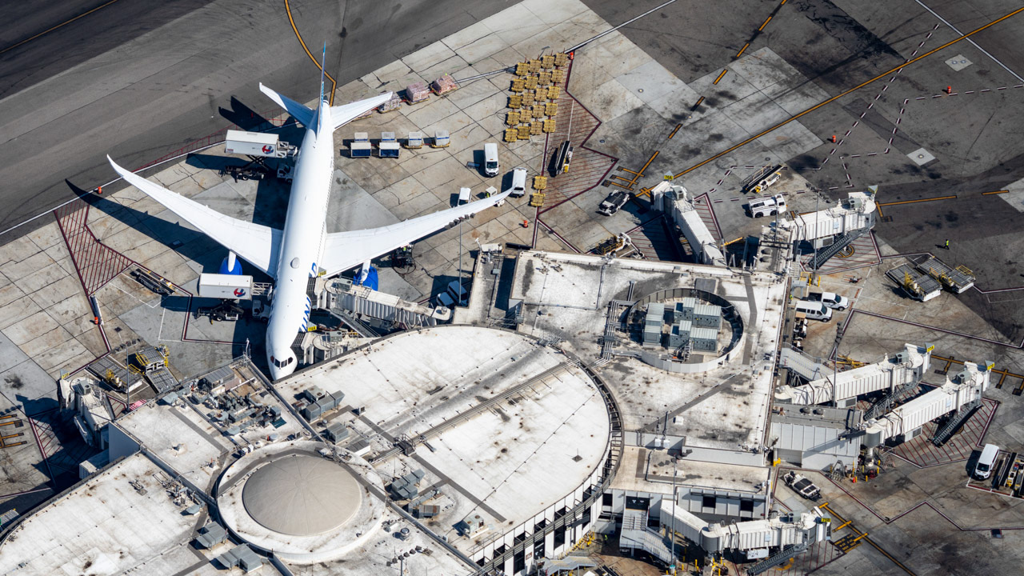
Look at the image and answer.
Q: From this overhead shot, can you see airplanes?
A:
Yes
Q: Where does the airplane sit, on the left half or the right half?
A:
left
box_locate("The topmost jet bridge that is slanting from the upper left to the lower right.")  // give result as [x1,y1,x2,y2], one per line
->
[645,171,741,267]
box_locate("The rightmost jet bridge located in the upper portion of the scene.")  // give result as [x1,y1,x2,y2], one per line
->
[764,183,885,277]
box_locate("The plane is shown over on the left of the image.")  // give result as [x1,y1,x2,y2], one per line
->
[107,41,512,380]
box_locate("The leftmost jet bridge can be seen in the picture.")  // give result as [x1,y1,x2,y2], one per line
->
[55,368,115,446]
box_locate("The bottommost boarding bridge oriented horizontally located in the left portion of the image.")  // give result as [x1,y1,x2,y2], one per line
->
[291,319,427,366]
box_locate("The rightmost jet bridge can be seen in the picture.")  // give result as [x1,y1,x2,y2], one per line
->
[861,359,998,474]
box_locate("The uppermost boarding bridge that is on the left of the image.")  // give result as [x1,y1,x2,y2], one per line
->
[304,266,452,331]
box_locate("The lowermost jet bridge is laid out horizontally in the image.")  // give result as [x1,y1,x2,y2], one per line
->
[657,502,836,576]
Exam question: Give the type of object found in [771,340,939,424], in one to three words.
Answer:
jet bridge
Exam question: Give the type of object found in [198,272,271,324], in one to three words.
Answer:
truck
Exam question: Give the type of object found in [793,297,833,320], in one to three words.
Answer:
vehicle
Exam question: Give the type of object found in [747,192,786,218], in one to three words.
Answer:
work vehicle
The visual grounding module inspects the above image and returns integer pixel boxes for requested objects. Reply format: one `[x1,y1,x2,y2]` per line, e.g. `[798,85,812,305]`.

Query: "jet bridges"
[55,368,115,446]
[291,319,427,366]
[645,171,741,267]
[861,359,998,474]
[304,266,452,331]
[657,502,836,576]
[771,340,939,424]
[764,183,885,277]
